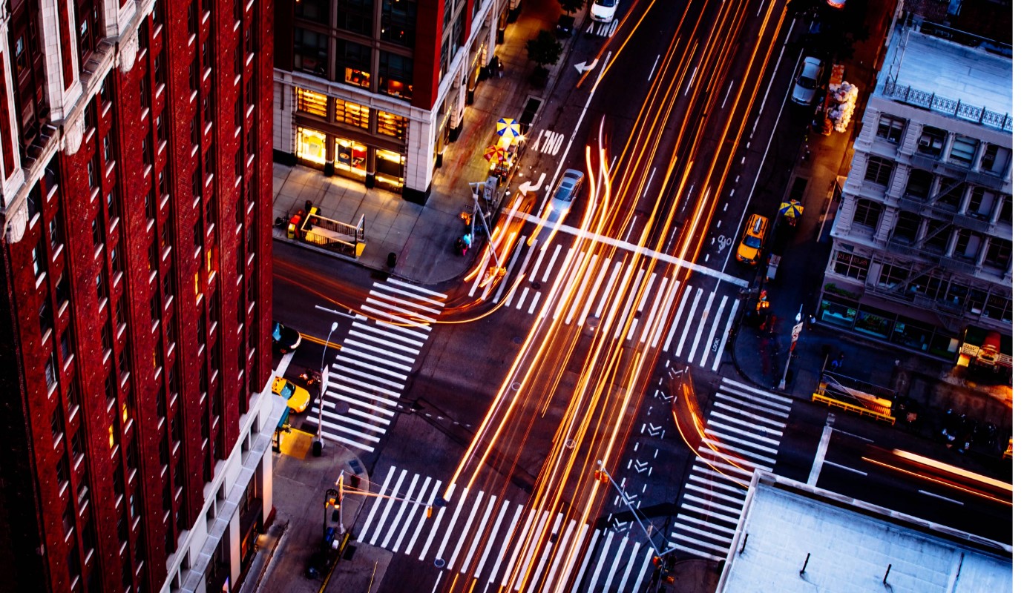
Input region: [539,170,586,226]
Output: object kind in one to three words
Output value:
car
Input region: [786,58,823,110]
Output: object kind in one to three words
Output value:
car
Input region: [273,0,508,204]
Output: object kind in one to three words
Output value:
building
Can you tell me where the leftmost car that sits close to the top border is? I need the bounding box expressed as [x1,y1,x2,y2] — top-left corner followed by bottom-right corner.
[587,0,623,30]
